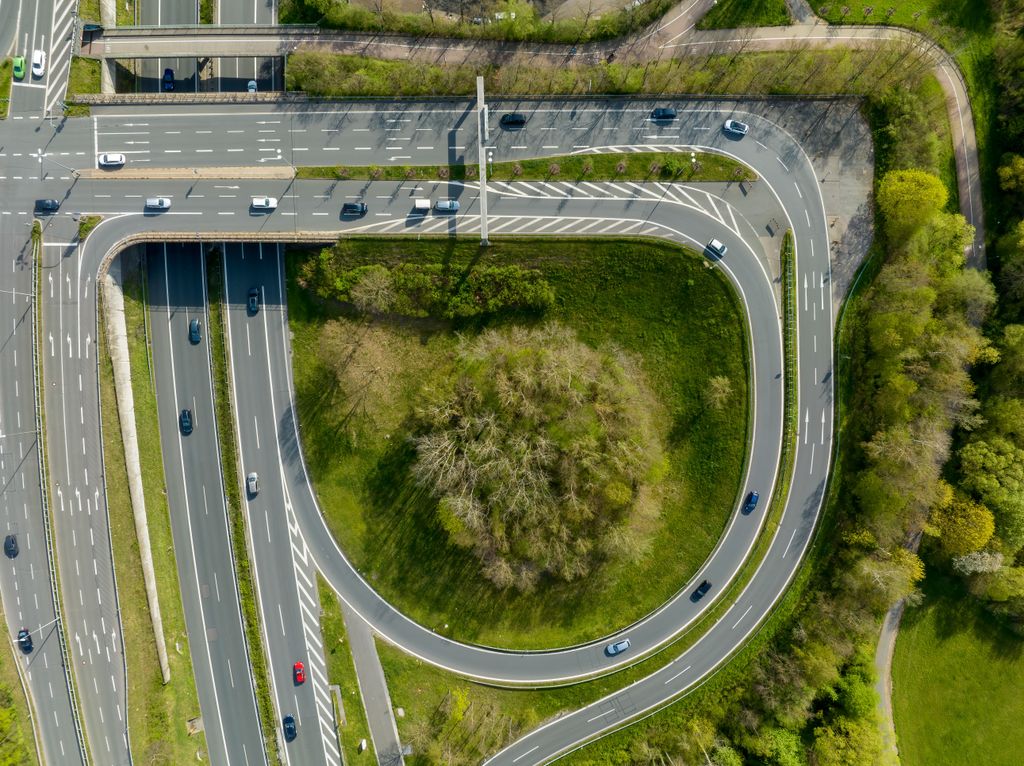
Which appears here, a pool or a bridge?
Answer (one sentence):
The one in the frame is a bridge.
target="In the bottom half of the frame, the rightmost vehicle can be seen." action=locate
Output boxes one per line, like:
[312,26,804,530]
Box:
[743,491,760,514]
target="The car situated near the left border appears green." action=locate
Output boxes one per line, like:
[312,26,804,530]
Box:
[11,57,26,80]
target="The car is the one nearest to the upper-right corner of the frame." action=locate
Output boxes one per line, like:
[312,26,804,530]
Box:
[725,120,748,135]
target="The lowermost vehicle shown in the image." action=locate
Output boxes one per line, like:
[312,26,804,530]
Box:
[283,715,296,741]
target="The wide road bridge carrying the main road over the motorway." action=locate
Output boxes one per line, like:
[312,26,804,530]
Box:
[68,90,339,280]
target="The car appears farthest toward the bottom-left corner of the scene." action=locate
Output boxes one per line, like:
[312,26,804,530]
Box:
[18,630,33,652]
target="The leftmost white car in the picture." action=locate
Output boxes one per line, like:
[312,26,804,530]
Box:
[30,51,46,77]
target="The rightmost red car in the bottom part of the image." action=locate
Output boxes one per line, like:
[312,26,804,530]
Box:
[293,661,305,684]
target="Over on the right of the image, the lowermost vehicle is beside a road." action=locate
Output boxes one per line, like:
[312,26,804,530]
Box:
[606,639,631,655]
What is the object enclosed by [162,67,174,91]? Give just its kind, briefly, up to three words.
vehicle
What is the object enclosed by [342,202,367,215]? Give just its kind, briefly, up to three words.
vehicle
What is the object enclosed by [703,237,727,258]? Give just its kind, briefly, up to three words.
car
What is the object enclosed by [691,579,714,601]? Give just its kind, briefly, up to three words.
car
